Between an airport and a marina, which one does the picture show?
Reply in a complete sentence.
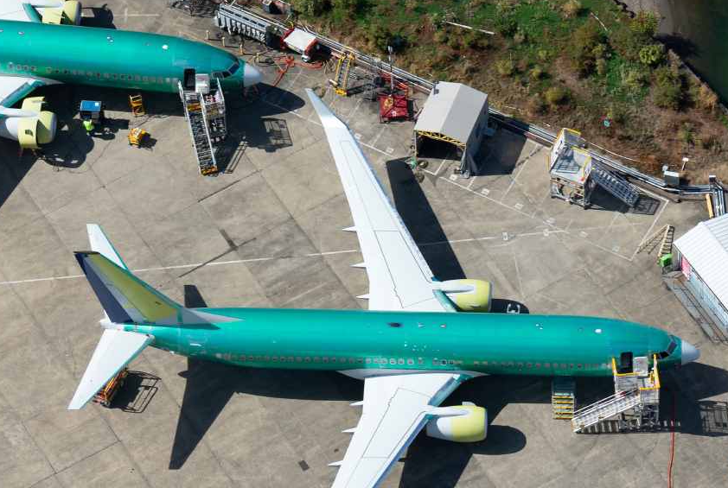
This looks like an airport.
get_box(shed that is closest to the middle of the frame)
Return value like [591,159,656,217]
[414,80,489,181]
